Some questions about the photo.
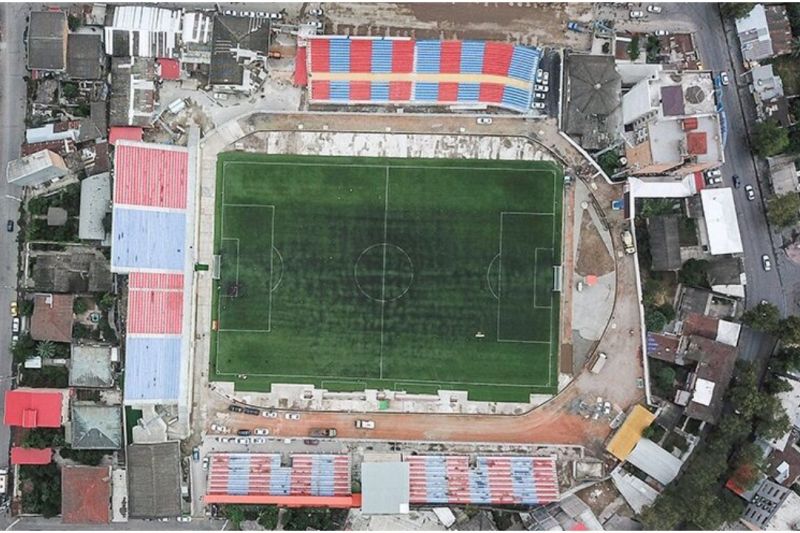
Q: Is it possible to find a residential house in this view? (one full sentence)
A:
Yes, you can see a residential house in this photo.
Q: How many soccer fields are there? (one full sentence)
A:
Only 1 soccer field is visible.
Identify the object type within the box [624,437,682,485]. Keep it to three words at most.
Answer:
building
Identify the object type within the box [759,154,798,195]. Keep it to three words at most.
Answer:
house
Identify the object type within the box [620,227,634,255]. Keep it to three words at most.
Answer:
vehicle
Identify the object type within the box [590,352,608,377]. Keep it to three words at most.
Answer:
vehicle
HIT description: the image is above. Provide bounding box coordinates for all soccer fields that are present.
[209,152,562,402]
